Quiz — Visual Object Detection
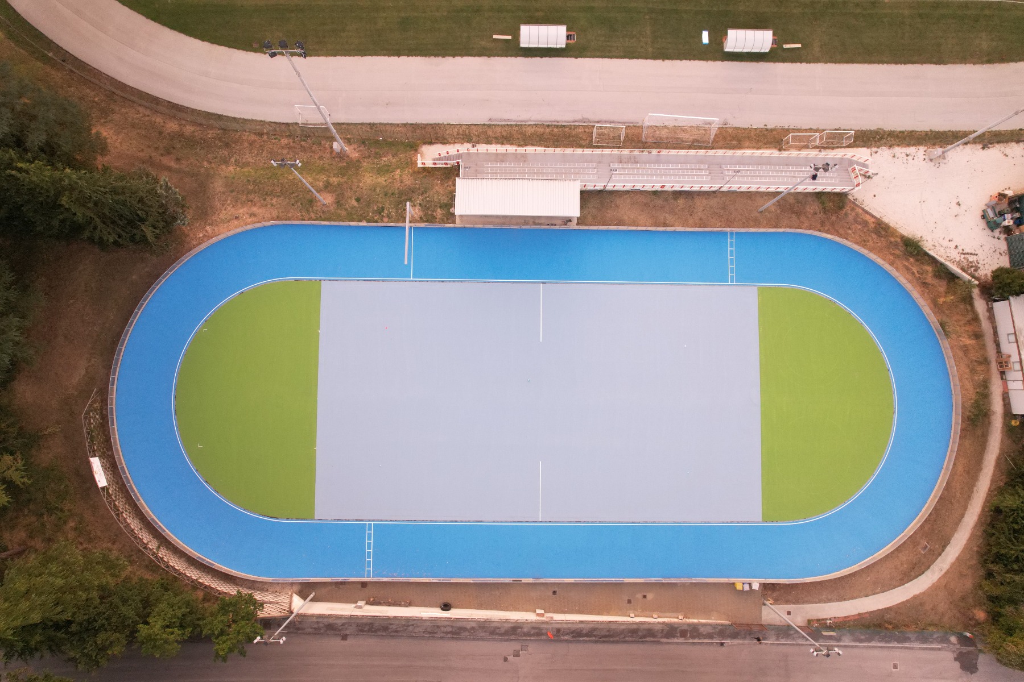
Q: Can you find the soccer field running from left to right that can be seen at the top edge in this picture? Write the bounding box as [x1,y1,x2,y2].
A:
[118,0,1024,65]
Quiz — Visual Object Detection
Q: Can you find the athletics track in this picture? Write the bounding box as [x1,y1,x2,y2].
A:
[9,0,1024,132]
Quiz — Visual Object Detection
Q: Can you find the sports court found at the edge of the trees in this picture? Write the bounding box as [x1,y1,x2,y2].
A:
[175,282,894,521]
